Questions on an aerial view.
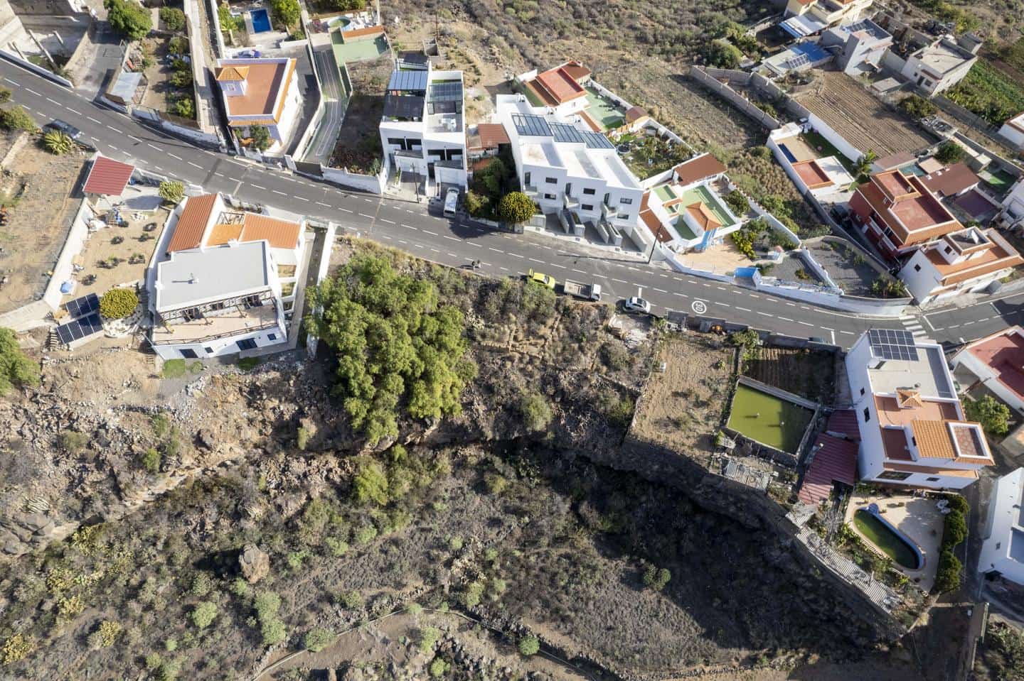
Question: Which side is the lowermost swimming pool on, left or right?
right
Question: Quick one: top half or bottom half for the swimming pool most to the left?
top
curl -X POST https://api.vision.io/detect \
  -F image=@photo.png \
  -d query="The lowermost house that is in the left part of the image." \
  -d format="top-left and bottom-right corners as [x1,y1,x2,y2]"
[150,193,313,359]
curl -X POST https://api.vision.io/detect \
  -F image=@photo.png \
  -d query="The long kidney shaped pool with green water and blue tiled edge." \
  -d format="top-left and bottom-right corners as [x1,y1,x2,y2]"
[850,504,924,573]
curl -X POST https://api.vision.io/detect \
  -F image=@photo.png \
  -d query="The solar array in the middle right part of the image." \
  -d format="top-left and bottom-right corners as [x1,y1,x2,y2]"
[868,329,919,362]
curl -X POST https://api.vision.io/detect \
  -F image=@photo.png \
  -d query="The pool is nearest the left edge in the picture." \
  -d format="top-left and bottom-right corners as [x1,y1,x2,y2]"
[249,8,275,35]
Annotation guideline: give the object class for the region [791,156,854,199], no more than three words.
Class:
house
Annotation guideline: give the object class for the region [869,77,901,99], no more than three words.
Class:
shed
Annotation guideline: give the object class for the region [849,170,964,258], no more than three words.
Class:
house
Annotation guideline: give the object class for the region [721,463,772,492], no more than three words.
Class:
shed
